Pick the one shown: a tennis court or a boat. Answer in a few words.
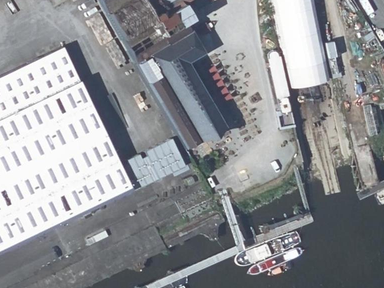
boat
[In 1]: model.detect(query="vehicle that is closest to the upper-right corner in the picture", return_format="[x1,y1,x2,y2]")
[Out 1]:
[360,0,374,18]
